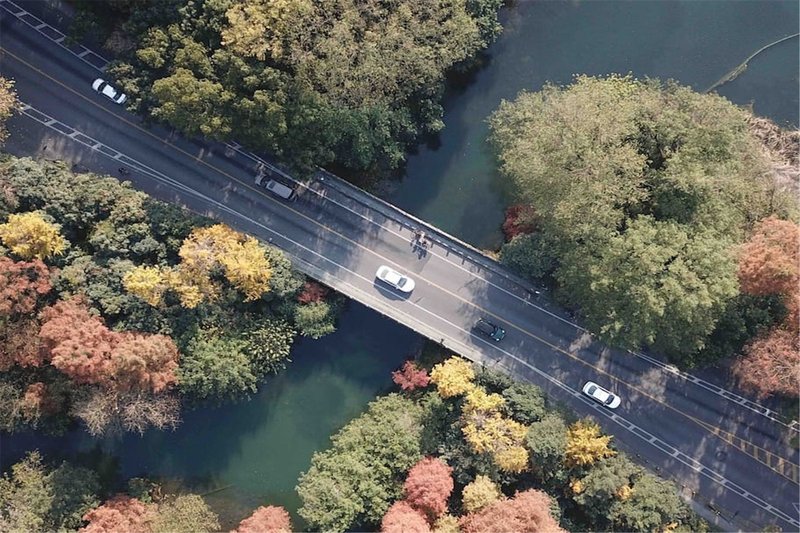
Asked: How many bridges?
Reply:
1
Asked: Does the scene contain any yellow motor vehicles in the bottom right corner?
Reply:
No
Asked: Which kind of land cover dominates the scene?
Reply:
trees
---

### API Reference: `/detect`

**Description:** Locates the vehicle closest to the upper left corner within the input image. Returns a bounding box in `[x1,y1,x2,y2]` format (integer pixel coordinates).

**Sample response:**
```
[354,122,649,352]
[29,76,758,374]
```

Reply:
[90,77,130,108]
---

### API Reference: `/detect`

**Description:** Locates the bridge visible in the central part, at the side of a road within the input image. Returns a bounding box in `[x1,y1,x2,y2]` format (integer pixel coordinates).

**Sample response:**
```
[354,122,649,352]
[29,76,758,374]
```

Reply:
[290,163,546,367]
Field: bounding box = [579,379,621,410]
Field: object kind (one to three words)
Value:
car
